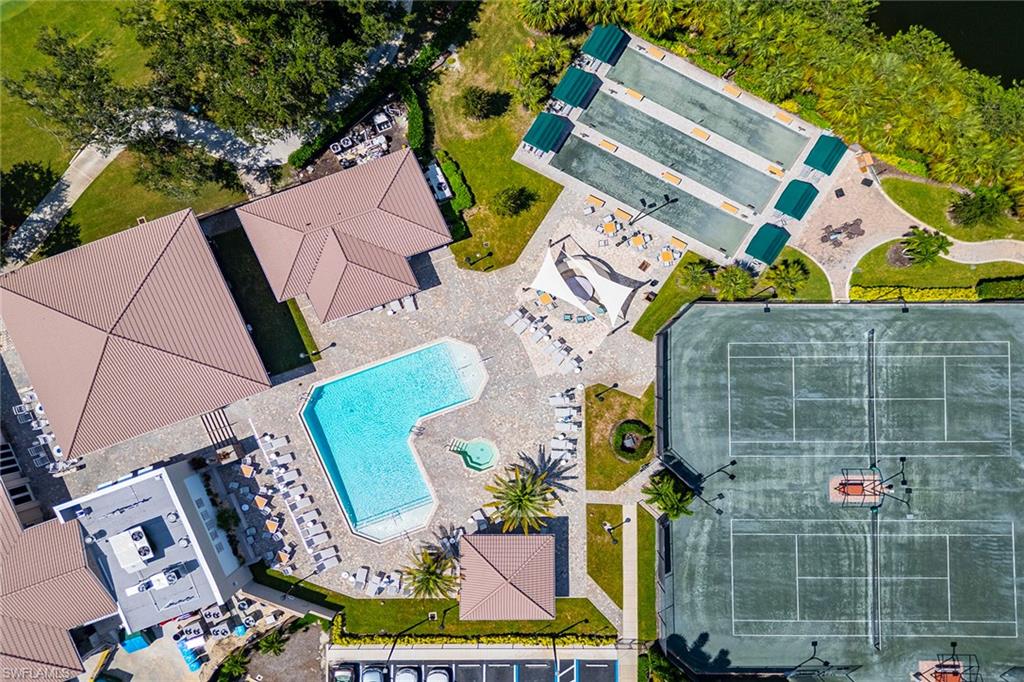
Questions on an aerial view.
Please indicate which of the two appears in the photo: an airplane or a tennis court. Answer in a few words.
tennis court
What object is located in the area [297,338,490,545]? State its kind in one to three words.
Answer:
swimming pool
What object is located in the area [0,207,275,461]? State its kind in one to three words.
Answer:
building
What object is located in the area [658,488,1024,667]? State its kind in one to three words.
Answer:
tennis court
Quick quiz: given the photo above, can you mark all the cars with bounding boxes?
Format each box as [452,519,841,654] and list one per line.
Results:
[427,670,449,682]
[362,668,384,682]
[331,666,354,682]
[395,669,417,682]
